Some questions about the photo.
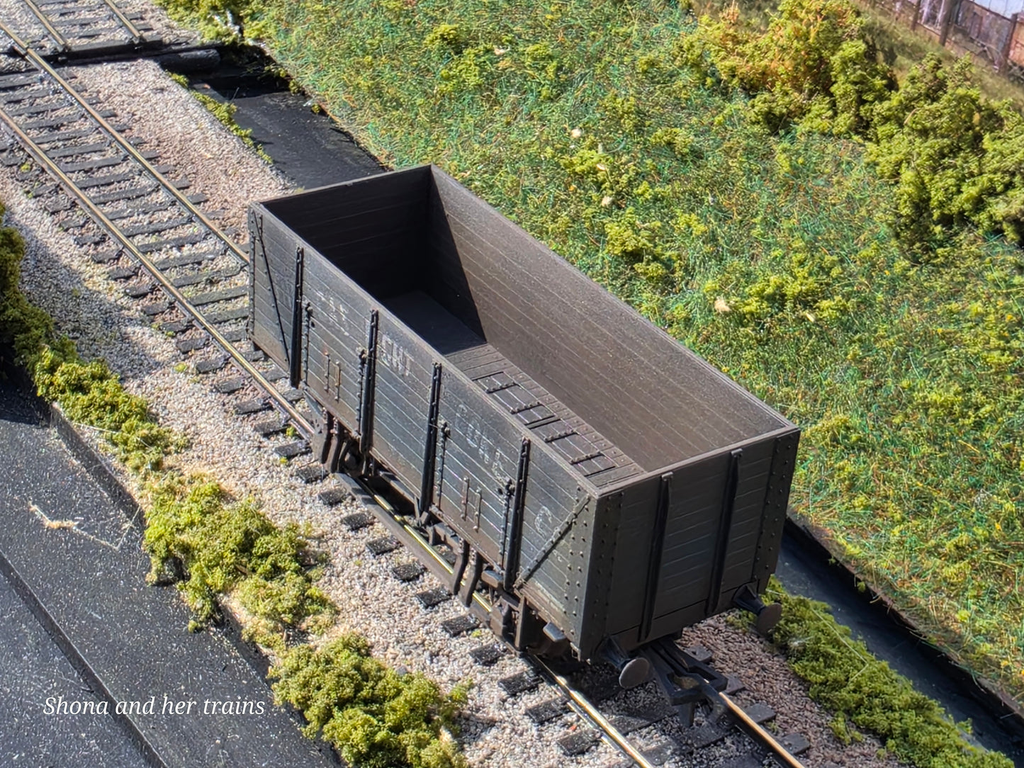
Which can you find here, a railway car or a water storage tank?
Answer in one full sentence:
There is a railway car in the scene.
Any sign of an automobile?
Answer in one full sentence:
No, there appears to be no automobile in this shot.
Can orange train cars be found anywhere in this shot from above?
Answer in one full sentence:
No, no orange train car can be seen from above.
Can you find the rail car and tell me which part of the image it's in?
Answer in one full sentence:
Look in the center portion of the view to spot the rail car.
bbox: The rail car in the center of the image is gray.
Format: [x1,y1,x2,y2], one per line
[246,166,798,722]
